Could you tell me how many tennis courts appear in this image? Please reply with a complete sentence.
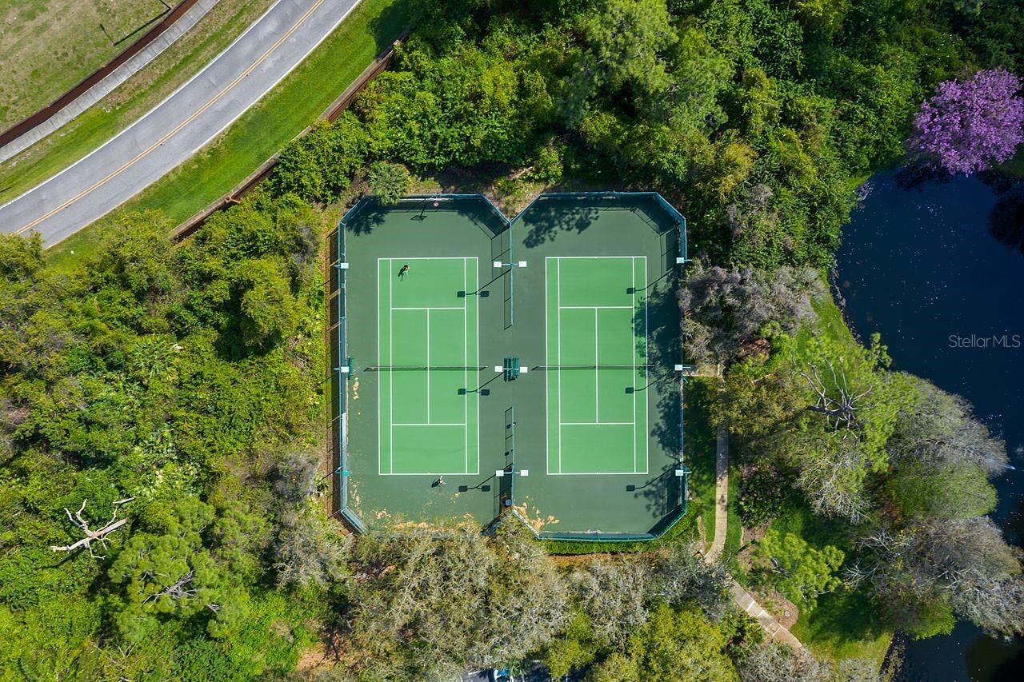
In total, there are 2 tennis courts in the scene.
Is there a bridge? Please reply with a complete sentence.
No, no bridge can be seen from above.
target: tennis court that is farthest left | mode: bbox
[346,200,512,526]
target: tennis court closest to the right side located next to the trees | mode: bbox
[510,198,680,534]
